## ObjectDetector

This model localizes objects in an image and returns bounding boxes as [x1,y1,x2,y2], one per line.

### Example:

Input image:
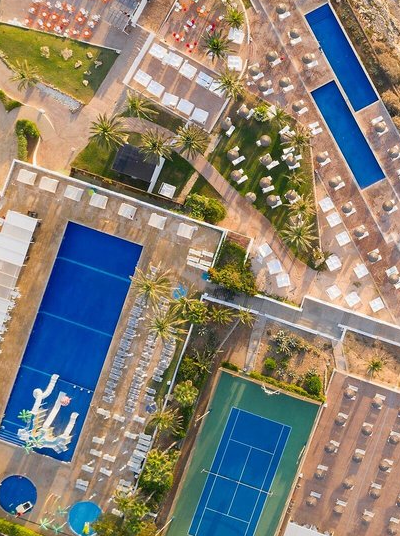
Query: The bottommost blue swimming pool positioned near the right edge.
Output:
[309,78,386,190]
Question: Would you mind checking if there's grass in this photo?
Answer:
Yes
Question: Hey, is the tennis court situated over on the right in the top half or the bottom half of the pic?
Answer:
bottom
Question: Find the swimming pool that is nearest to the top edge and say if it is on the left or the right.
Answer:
right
